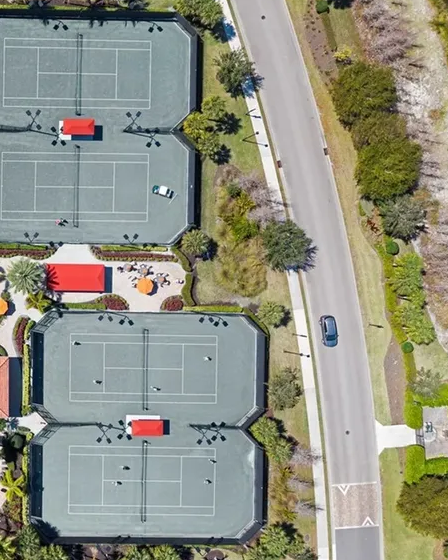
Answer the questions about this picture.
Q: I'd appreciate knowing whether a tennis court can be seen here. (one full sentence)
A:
Yes, the picture does show a tennis court.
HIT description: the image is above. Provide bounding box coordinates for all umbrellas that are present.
[0,298,8,314]
[137,277,154,294]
